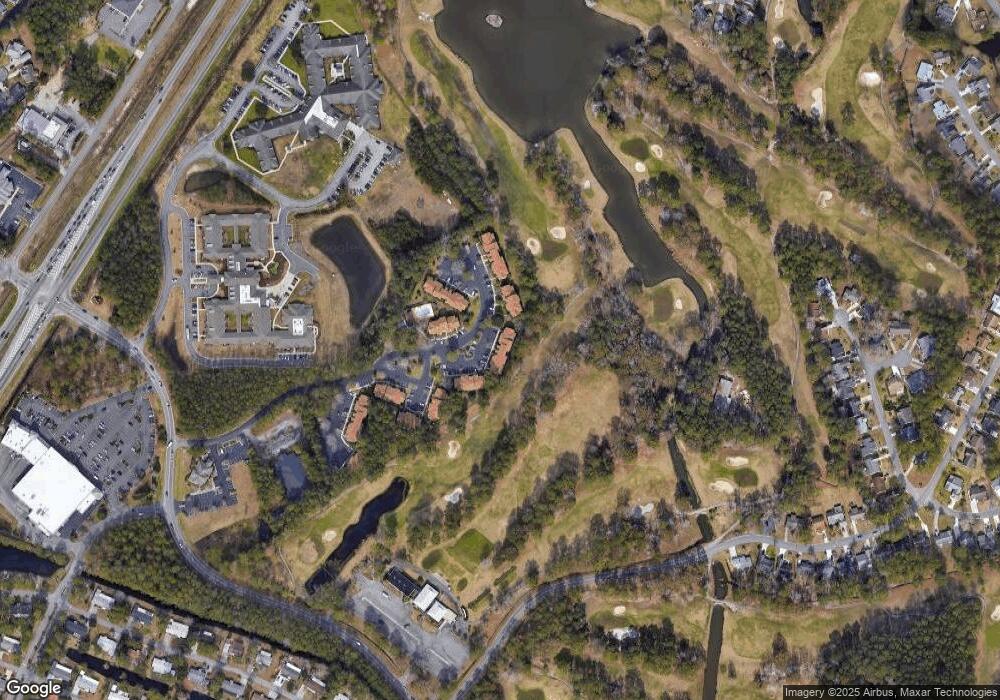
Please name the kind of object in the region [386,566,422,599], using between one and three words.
barn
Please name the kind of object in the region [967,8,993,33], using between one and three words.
house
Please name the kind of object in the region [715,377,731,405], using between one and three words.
shed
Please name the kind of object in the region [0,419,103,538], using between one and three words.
building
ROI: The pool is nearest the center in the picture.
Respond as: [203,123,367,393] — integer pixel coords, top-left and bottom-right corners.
[412,304,435,321]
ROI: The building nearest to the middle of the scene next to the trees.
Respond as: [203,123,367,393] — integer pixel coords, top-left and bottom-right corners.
[486,326,520,375]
